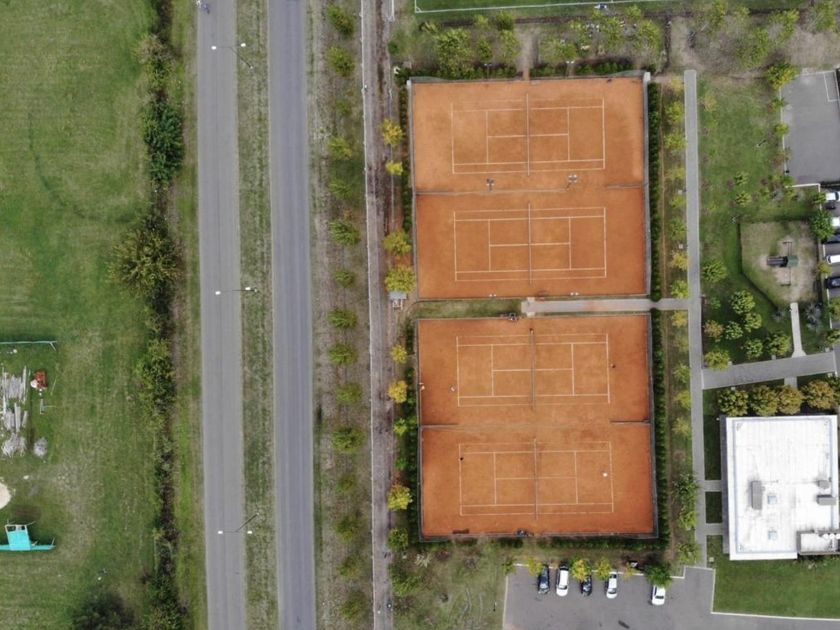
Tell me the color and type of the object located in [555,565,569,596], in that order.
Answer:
white vehicle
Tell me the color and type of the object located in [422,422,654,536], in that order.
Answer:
orange tennis court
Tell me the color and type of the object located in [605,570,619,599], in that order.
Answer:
white vehicle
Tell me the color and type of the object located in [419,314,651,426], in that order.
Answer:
orange tennis court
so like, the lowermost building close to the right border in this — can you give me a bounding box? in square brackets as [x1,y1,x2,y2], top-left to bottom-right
[719,413,840,560]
